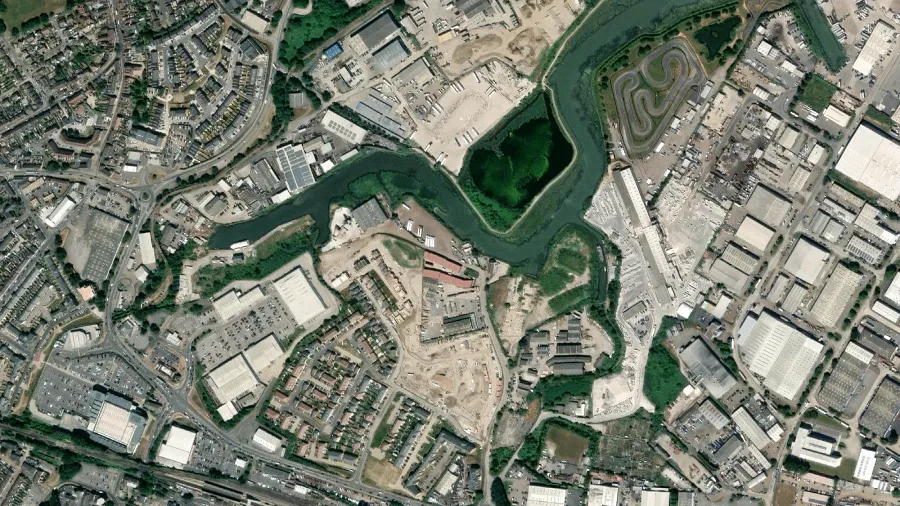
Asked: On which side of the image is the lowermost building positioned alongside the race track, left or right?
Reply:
right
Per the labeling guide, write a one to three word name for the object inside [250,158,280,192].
building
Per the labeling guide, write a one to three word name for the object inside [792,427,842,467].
building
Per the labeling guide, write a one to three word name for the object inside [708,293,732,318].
shed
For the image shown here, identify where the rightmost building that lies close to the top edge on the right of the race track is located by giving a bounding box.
[853,20,896,76]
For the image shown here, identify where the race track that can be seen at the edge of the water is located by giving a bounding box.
[612,38,705,153]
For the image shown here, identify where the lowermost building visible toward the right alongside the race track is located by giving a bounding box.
[613,168,676,307]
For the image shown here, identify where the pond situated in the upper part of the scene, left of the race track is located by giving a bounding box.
[468,100,572,207]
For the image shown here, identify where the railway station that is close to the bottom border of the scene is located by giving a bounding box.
[163,472,261,506]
